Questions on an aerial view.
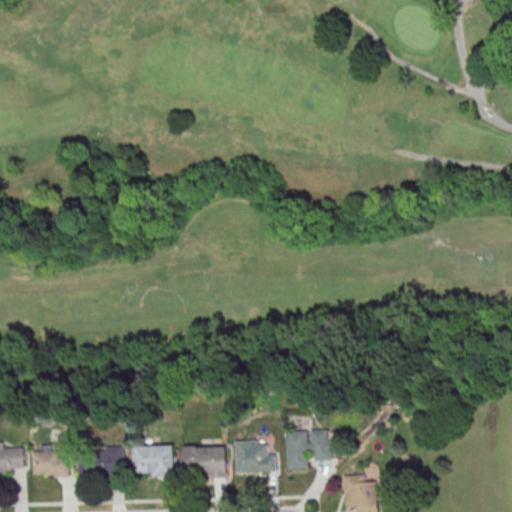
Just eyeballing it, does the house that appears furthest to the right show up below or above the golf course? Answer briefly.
below it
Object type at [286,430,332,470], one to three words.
house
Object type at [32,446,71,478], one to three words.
house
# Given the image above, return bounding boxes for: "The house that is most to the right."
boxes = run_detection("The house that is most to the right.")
[343,476,378,512]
